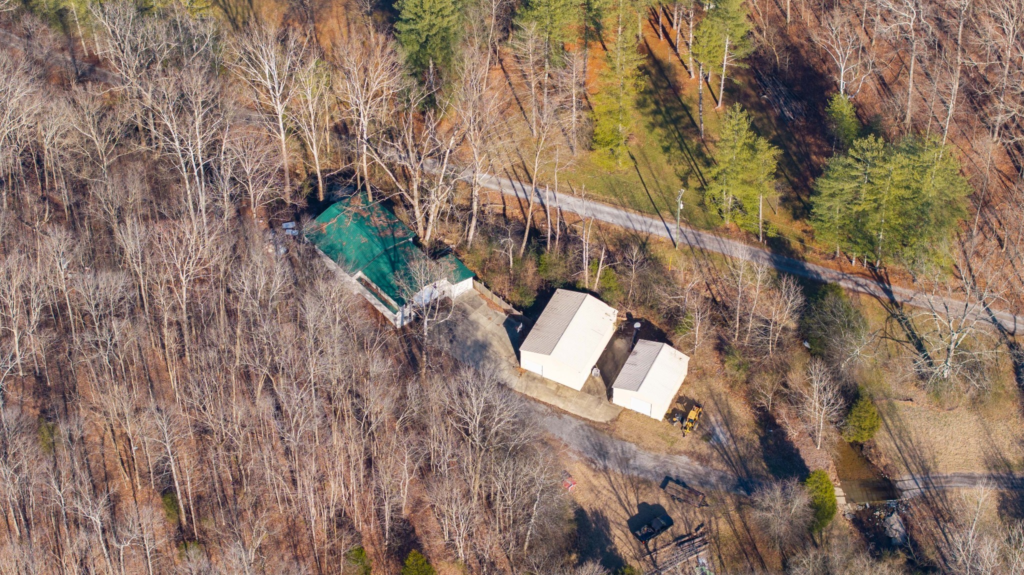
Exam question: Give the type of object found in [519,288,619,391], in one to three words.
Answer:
shed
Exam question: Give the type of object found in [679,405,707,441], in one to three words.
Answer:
work vehicle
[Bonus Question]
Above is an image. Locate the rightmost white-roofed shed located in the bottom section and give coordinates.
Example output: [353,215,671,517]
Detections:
[611,340,690,422]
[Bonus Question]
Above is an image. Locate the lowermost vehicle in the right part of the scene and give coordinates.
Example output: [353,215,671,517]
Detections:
[632,514,674,544]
